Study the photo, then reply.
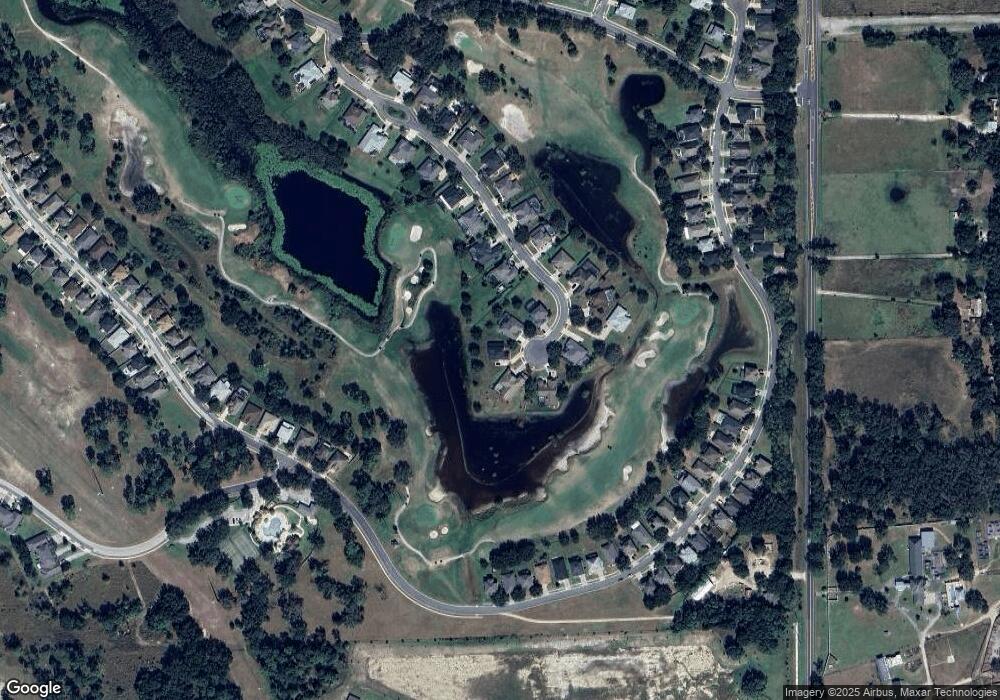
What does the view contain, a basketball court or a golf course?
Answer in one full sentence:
It is a golf course that can be seen here.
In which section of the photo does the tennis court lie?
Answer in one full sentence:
The tennis court is in the bottom left part of the image.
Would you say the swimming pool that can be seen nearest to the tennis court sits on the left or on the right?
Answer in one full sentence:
The swimming pool that can be seen nearest to the tennis court appears in the left half of the scene.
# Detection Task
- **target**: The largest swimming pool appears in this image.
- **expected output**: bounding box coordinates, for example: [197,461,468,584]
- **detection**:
[256,512,290,553]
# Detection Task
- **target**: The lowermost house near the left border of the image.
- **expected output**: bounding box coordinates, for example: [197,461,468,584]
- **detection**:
[25,535,60,565]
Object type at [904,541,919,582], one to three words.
barn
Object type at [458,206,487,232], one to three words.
house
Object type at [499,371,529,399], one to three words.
house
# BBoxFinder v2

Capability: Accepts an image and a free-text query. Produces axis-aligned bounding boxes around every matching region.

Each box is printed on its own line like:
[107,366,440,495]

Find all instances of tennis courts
[215,528,262,574]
